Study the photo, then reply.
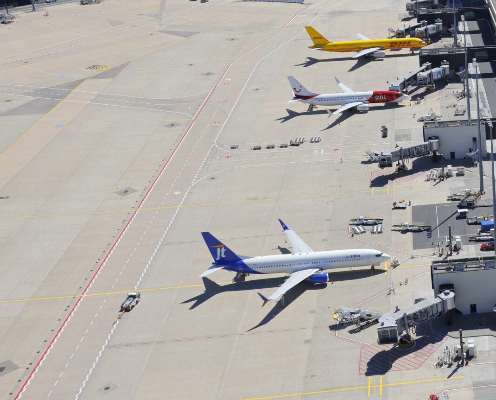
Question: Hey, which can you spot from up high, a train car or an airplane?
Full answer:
The one in the frame is an airplane.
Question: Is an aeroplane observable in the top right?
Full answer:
Yes, there is an aeroplane in the top right.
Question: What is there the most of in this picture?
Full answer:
Most of the picture is covered by paved ground.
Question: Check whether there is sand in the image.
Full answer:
No, no sand is visible.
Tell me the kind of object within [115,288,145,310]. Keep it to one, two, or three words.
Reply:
work vehicle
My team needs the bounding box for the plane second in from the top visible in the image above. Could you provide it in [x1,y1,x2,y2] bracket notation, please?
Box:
[290,74,409,111]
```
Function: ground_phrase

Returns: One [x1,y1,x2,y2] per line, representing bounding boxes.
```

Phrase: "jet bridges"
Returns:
[402,0,437,15]
[385,60,437,93]
[372,286,457,355]
[415,59,465,90]
[373,136,440,172]
[393,19,429,37]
